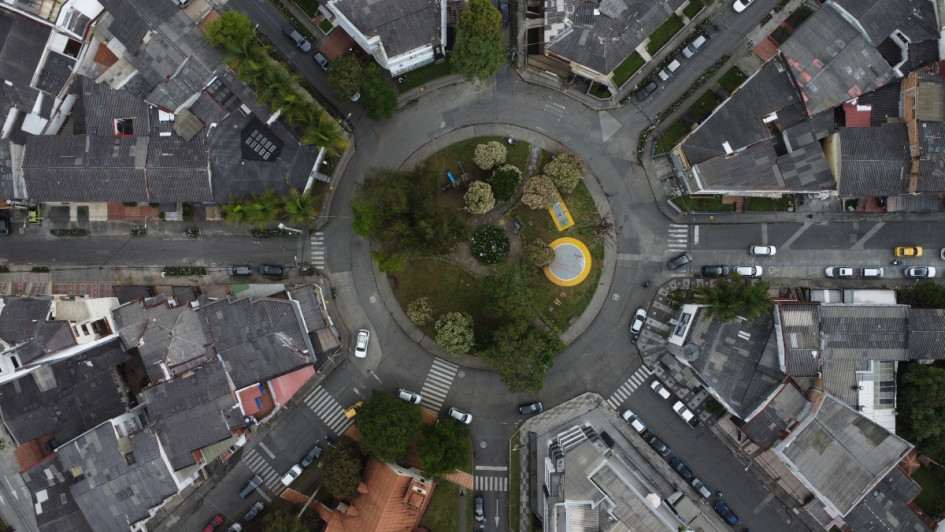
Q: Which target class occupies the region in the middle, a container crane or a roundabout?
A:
roundabout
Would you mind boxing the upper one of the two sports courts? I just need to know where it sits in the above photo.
[545,190,575,231]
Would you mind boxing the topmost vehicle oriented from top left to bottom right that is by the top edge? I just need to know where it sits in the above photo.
[282,23,311,54]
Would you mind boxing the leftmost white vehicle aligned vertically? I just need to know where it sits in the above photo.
[355,330,370,357]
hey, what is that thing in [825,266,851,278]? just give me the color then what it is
white vehicle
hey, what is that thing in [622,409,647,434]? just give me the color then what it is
white car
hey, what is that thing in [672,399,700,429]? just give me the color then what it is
white truck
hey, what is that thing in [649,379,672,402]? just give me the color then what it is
white car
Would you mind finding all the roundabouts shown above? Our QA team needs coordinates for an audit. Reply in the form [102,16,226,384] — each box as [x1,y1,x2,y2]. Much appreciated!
[302,55,686,449]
